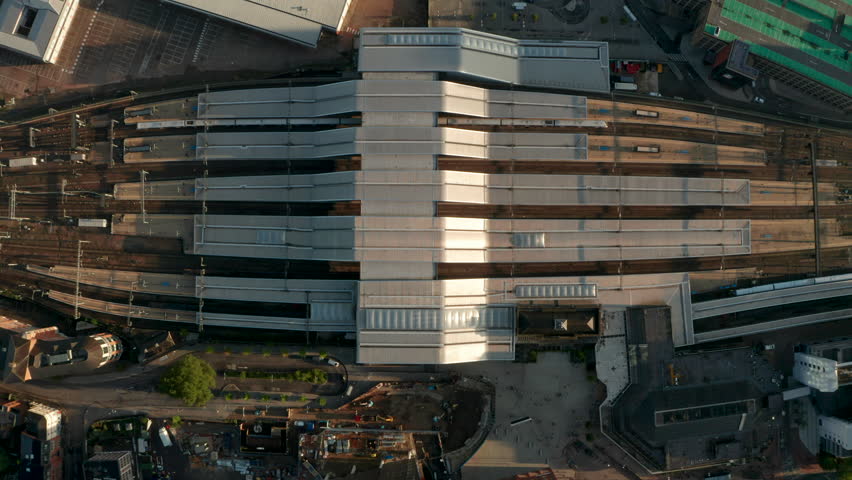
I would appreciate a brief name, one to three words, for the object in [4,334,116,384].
building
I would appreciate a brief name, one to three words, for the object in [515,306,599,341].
building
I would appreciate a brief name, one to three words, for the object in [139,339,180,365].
shed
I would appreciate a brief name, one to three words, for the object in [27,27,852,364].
train station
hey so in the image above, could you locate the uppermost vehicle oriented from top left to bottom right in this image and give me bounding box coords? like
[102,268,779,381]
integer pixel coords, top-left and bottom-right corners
[622,2,638,20]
